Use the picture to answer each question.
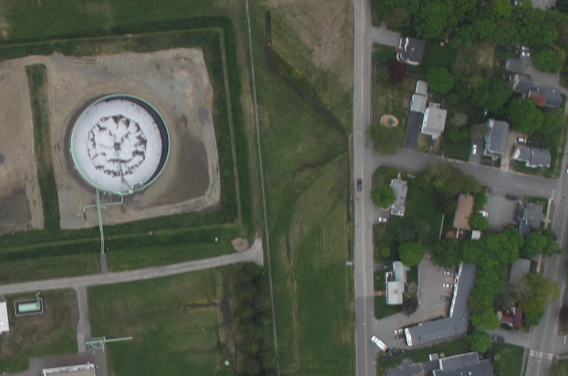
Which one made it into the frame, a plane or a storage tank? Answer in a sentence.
Looking from above, you can make out a storage tank.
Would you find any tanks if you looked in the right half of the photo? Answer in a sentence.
No, no tank appears in the right half of the photo.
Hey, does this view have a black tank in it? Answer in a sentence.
No, no black tank can be seen from above.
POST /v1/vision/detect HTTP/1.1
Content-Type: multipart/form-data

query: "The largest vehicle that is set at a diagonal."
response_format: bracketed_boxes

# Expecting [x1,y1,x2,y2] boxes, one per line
[371,336,388,351]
